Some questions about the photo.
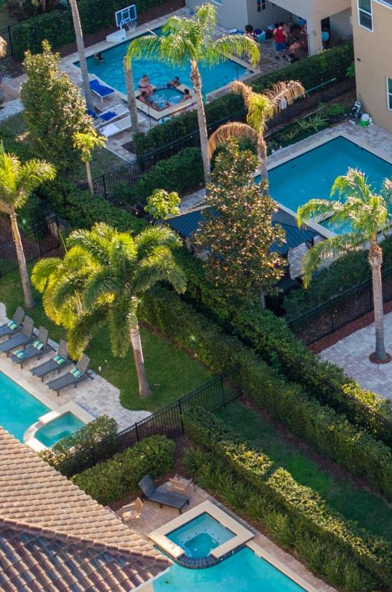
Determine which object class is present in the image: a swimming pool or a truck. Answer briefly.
swimming pool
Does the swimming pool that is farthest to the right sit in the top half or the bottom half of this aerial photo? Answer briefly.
top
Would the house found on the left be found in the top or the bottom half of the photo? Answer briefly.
bottom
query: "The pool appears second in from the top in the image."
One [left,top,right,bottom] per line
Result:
[245,129,392,245]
